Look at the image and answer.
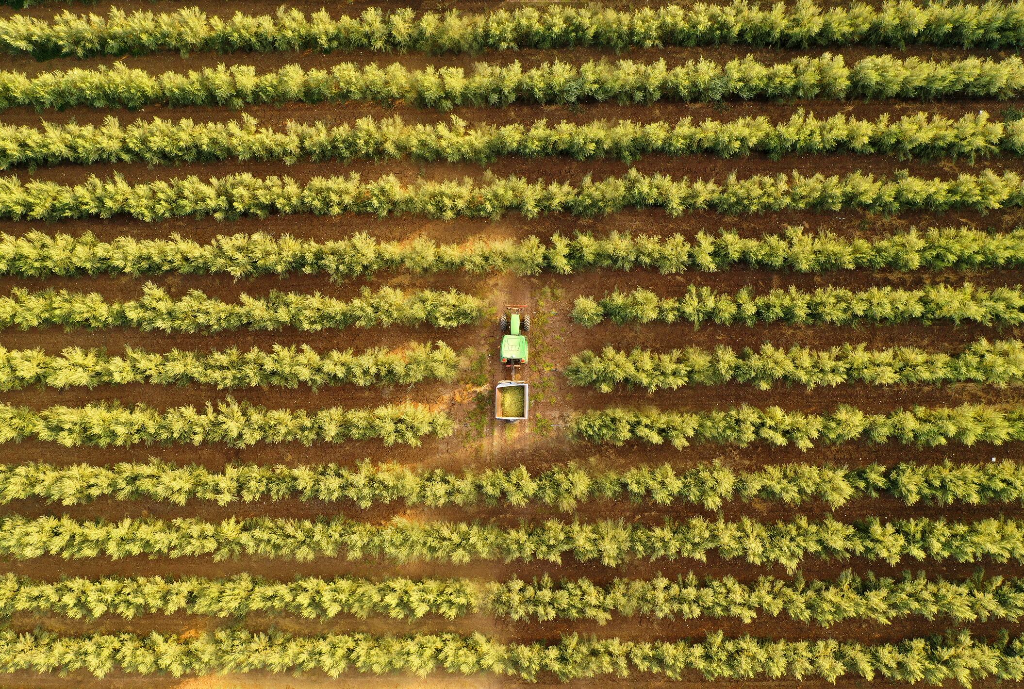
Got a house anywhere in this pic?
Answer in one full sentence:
No, no house is visible in the view.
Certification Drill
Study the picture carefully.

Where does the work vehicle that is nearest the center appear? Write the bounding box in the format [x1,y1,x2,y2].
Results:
[500,305,530,372]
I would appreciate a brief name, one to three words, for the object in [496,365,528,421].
trailer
